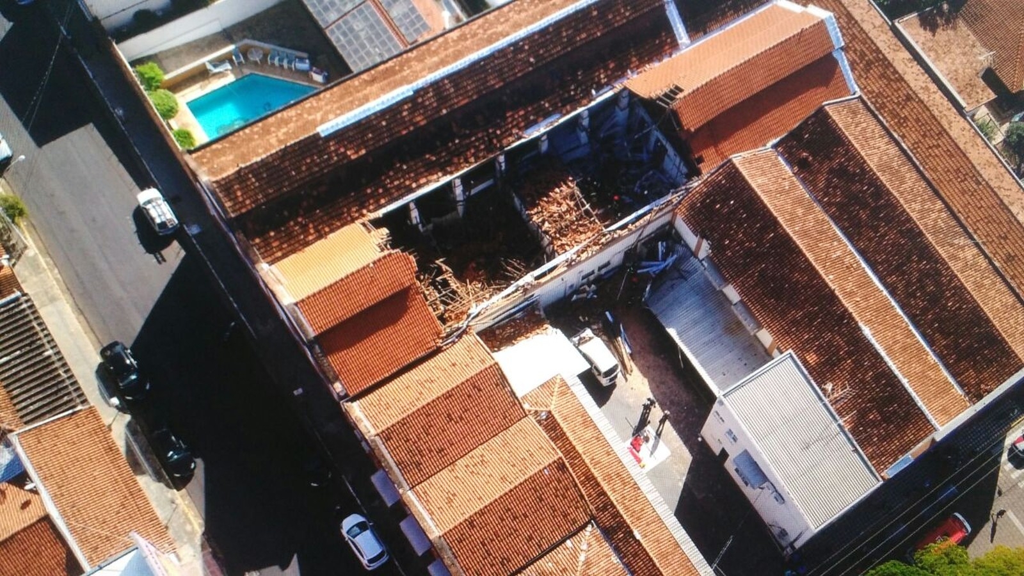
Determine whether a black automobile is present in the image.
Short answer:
Yes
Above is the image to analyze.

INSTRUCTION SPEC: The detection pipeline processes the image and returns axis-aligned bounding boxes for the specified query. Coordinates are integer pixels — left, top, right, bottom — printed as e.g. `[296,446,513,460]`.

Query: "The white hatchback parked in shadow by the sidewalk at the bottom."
[341,514,391,576]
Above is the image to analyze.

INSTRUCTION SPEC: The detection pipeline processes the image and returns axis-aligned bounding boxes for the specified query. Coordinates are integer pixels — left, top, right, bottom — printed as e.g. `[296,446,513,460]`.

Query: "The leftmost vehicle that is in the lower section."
[101,336,152,401]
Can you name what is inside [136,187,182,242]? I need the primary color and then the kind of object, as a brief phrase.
white car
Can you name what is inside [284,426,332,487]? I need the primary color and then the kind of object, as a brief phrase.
black car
